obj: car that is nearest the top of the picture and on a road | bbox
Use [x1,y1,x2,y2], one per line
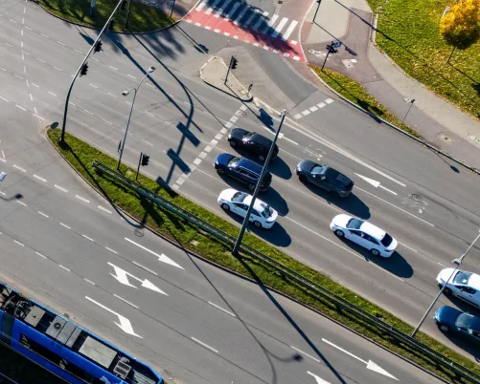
[224,129,283,165]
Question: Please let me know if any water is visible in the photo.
No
